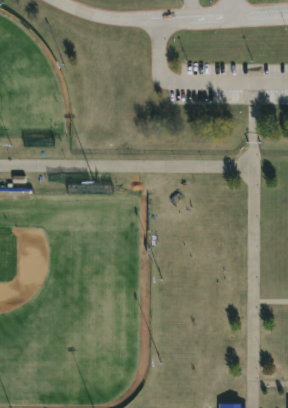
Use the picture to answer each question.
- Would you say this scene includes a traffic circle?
No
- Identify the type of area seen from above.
sports ground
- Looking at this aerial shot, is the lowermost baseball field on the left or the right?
left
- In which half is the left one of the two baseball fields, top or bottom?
top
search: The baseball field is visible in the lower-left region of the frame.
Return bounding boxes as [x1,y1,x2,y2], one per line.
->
[0,191,148,408]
